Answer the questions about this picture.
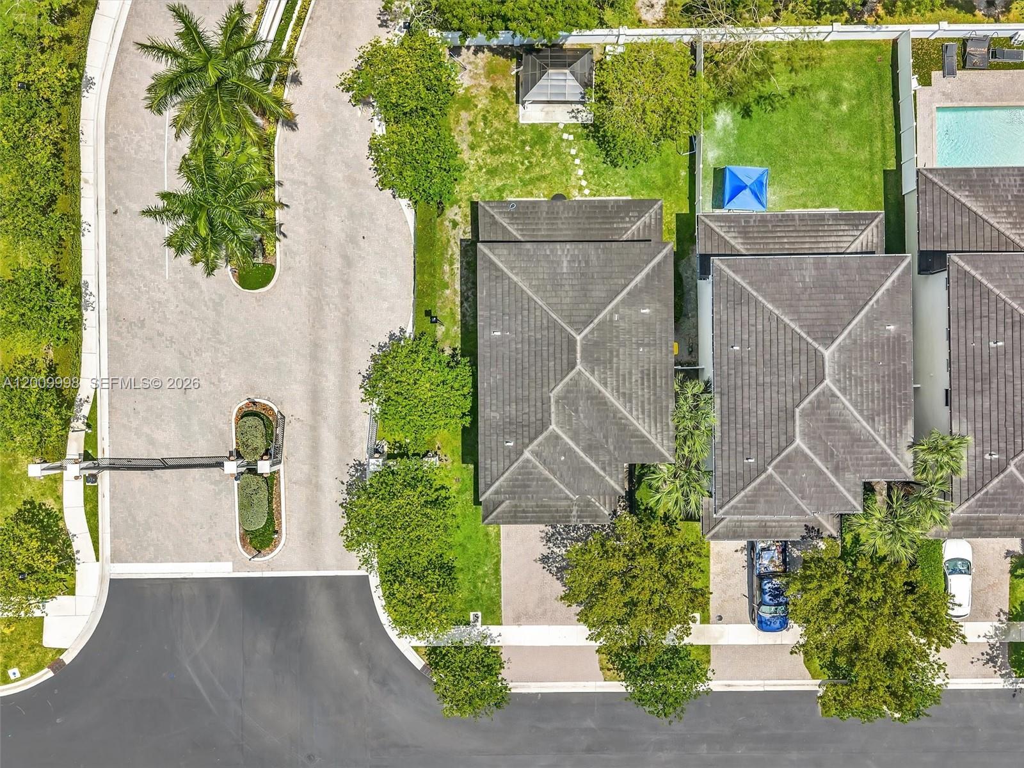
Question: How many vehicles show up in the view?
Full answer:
The count of vehicles comes to 2.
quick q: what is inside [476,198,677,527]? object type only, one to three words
house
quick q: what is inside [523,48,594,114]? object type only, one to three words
gazebo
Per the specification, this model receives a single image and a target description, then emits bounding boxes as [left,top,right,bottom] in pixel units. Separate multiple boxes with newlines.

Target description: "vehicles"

[937,540,978,619]
[753,541,797,634]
